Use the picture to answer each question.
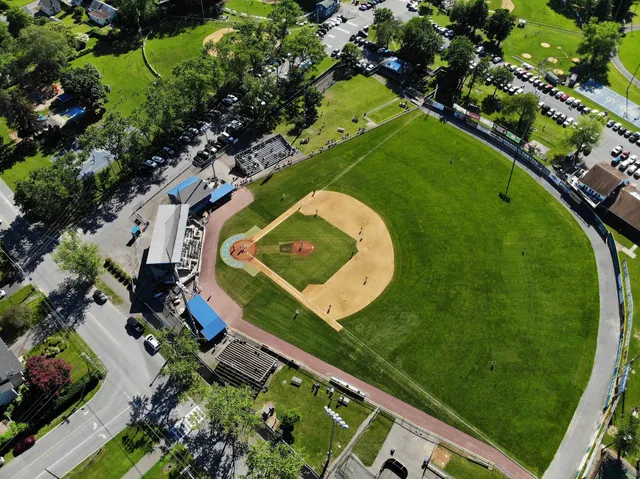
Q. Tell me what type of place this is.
sports ground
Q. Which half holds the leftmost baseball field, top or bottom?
top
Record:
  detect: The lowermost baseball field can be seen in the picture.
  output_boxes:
[199,107,621,479]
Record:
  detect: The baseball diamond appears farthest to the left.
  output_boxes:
[143,24,258,77]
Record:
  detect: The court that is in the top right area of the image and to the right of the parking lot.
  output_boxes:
[574,76,640,122]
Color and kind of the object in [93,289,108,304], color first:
black car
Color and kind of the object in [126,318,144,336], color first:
black vehicle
